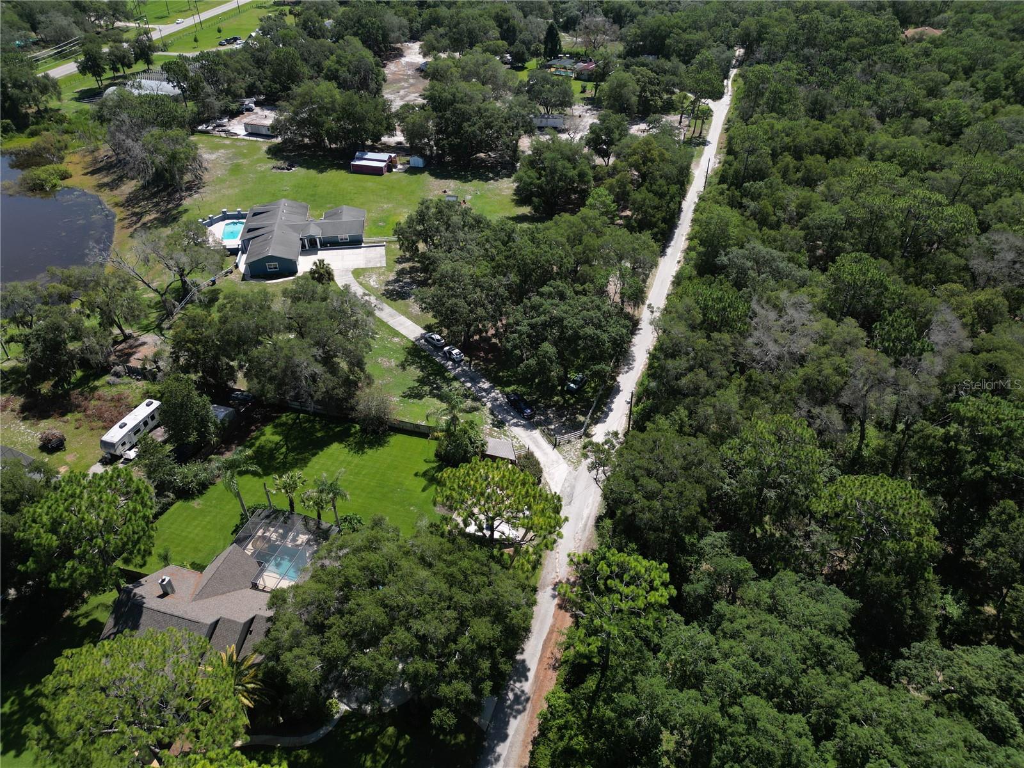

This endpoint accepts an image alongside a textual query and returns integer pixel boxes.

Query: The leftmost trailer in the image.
[25,419,77,448]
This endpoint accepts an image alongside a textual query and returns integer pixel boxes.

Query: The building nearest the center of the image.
[484,439,516,473]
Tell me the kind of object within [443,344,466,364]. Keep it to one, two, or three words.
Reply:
car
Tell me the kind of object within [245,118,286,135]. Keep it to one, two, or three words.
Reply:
house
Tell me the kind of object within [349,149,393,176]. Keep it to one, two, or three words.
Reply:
barn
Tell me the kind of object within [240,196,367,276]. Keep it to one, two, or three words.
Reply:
house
